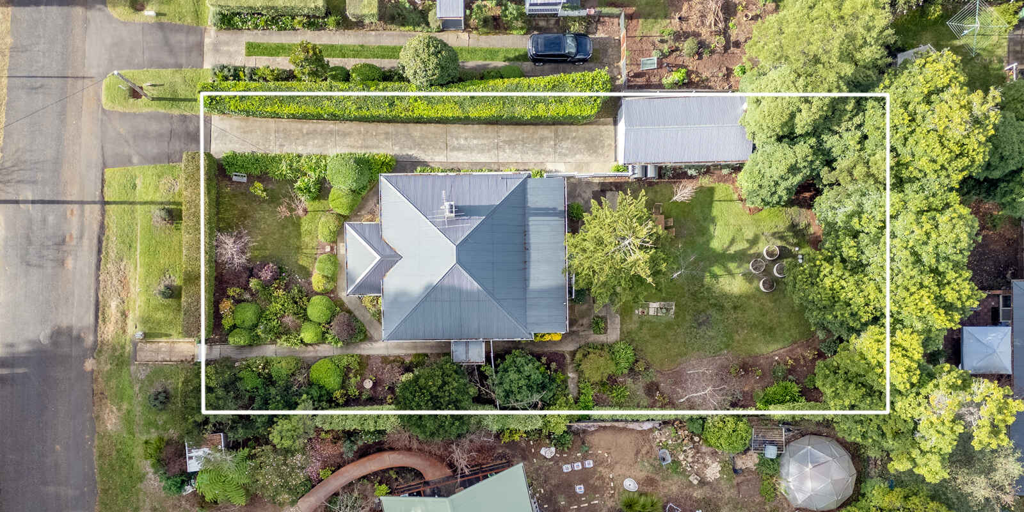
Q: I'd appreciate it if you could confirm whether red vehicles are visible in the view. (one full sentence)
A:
No, no red vehicle is visible in the scene.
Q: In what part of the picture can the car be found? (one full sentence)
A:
The car is located in the top region of the scene.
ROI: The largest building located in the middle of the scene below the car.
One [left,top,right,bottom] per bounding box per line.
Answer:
[344,171,568,364]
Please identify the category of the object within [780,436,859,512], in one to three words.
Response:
greenhouse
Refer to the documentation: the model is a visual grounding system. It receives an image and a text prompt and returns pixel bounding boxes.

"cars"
[529,32,593,67]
